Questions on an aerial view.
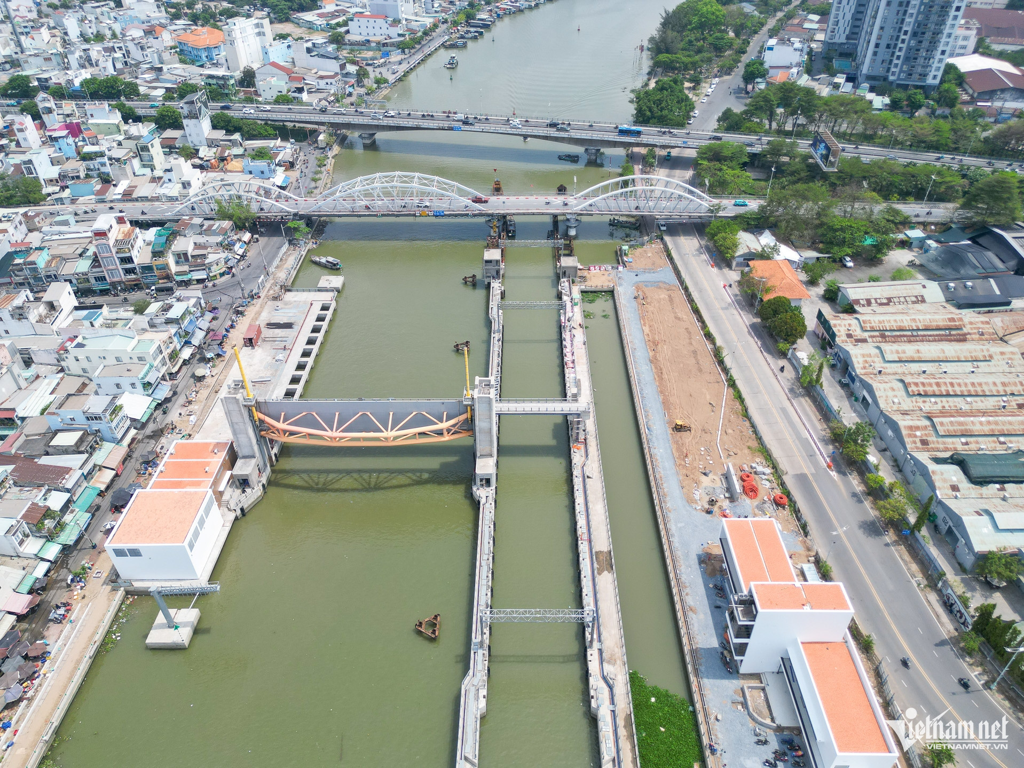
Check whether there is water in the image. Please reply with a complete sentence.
Yes, there is water in the image.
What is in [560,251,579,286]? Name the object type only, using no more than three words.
building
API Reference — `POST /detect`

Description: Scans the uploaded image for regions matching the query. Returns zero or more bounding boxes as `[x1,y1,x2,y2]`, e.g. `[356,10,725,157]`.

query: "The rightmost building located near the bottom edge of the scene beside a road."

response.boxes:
[707,520,897,768]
